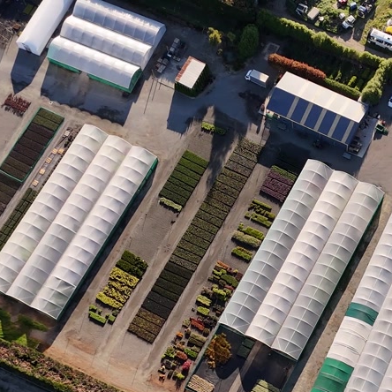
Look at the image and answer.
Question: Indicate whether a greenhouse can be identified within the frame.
Yes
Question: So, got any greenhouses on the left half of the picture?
Yes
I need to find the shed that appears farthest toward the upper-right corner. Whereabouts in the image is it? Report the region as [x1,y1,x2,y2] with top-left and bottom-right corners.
[263,71,370,152]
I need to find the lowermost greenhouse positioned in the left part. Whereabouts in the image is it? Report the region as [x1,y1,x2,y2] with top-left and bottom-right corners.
[0,125,158,321]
